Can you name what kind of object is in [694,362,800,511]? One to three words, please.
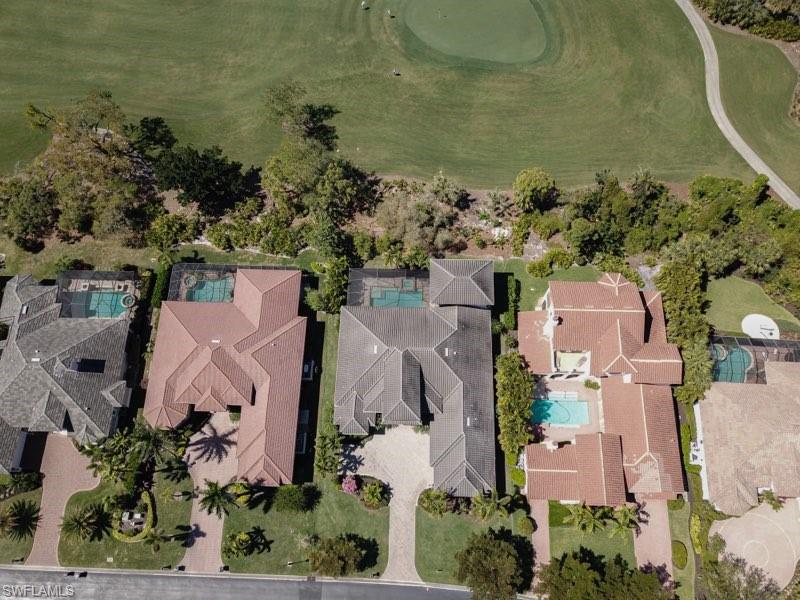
house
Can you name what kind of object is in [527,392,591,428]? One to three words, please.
swimming pool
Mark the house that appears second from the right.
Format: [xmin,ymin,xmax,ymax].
[518,273,685,504]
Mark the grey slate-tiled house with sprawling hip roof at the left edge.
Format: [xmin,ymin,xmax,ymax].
[0,273,139,473]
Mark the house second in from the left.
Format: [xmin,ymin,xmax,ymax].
[138,269,305,488]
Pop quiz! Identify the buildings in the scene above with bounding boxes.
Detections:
[694,362,800,511]
[138,269,305,488]
[333,259,495,498]
[518,273,685,504]
[0,273,139,473]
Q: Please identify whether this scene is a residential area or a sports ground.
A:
residential area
